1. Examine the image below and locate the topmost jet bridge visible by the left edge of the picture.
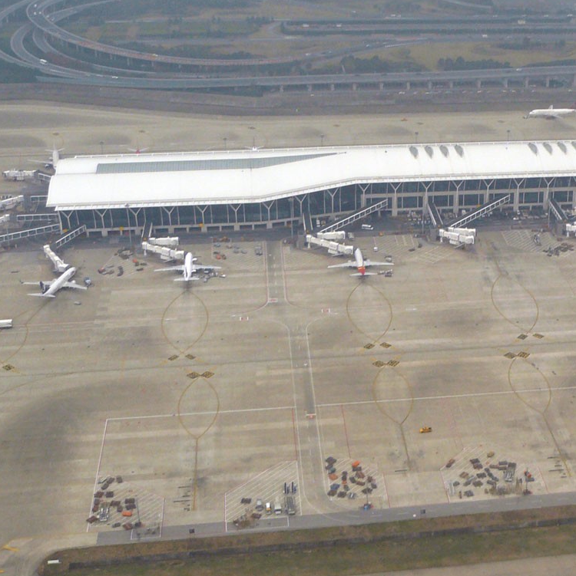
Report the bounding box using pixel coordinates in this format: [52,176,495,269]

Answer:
[0,166,54,191]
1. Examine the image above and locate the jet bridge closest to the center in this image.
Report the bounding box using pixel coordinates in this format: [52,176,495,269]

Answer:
[294,202,387,259]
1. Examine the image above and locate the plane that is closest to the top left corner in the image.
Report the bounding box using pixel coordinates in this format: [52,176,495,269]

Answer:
[26,138,63,170]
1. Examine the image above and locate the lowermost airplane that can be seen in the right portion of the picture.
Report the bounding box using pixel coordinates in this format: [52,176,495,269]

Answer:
[327,248,394,277]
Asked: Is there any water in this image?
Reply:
No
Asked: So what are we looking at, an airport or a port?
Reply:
airport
